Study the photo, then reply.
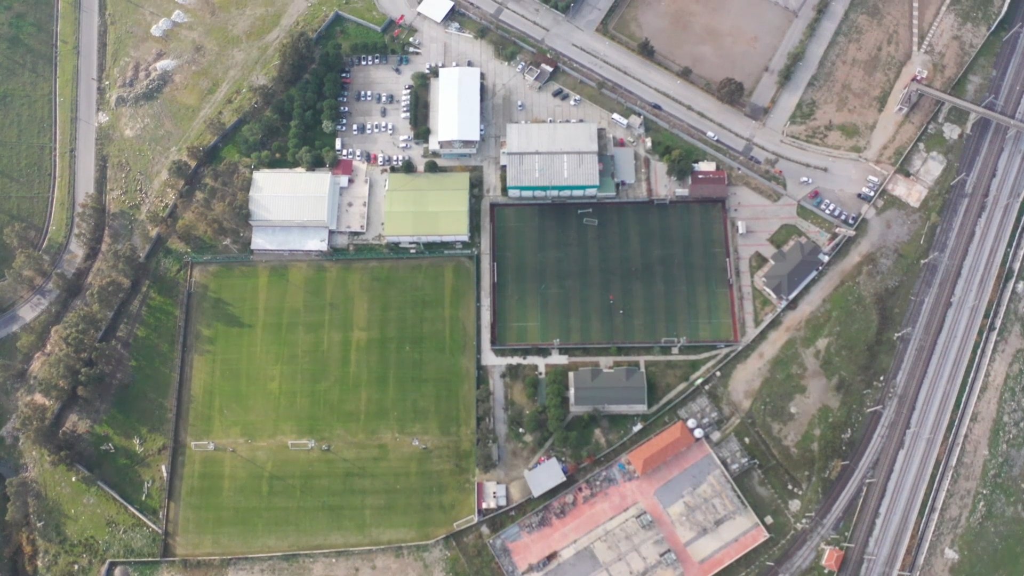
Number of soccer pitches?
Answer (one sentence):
In total, 2 soccer pitches can be seen.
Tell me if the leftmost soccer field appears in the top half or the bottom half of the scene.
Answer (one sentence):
You can find the leftmost soccer field in the bottom half.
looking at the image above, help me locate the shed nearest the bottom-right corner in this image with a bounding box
[820,547,845,573]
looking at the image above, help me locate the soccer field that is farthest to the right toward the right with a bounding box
[491,200,739,348]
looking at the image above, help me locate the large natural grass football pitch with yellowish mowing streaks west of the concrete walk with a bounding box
[164,256,475,557]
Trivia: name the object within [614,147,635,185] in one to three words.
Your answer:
shed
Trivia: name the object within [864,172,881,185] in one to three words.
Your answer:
vehicle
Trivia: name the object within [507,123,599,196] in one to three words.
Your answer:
building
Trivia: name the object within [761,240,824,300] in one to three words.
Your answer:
house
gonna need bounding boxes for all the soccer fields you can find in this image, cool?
[164,256,475,557]
[491,200,739,348]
